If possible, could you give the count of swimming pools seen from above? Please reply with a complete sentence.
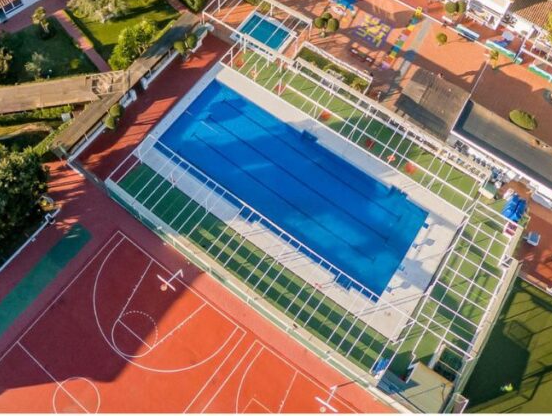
I count 2 swimming pools.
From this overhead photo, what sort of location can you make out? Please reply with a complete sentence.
What you see here is a sports ground.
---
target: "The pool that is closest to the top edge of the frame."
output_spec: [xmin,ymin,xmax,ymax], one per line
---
[231,10,298,59]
